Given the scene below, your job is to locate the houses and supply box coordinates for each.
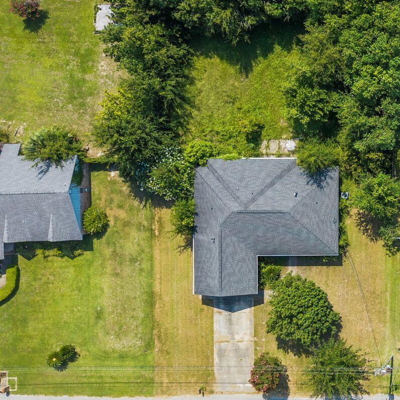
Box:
[193,158,340,297]
[0,143,92,260]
